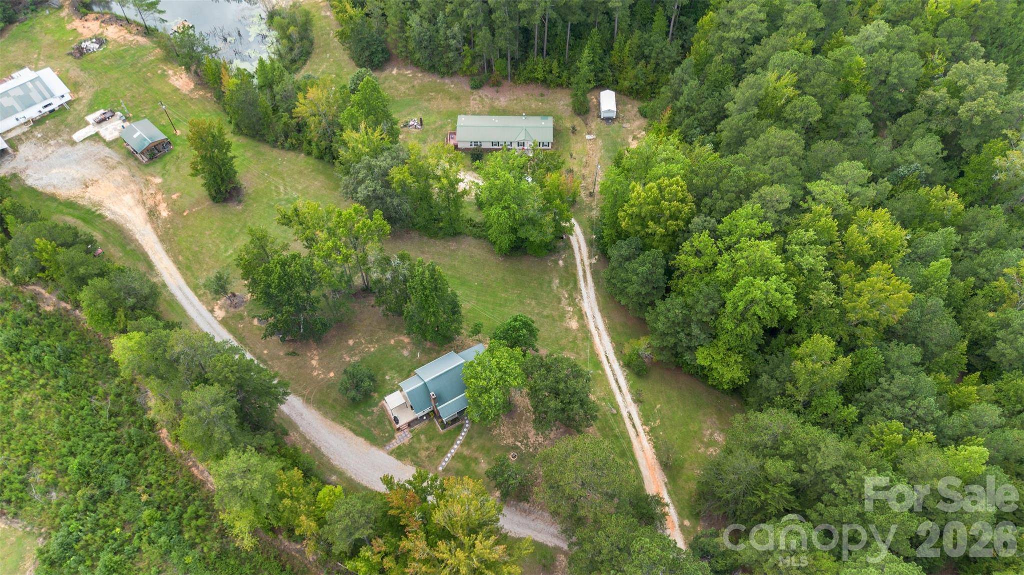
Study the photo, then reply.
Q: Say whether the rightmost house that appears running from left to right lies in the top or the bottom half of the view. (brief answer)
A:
top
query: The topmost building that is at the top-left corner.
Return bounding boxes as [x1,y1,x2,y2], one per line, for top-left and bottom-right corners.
[0,68,72,134]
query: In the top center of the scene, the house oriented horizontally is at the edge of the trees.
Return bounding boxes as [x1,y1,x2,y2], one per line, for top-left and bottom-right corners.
[444,113,552,160]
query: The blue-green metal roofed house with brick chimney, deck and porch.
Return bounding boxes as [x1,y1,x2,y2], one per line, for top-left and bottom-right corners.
[381,344,489,432]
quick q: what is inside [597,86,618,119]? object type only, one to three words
shed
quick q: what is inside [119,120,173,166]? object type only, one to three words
building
